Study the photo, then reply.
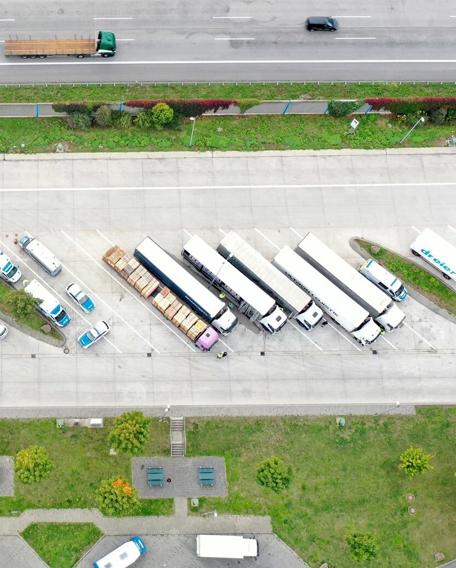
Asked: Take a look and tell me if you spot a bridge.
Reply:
No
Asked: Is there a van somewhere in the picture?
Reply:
Yes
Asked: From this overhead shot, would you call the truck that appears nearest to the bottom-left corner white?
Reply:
Yes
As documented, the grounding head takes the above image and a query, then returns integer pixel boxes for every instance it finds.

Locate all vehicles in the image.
[0,251,22,284]
[358,257,406,303]
[5,33,116,61]
[78,319,111,350]
[408,230,456,284]
[94,535,146,568]
[0,322,11,340]
[272,246,381,347]
[19,236,63,280]
[65,282,97,315]
[304,16,339,34]
[194,535,260,561]
[133,236,240,337]
[216,230,325,331]
[293,232,405,333]
[23,279,69,328]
